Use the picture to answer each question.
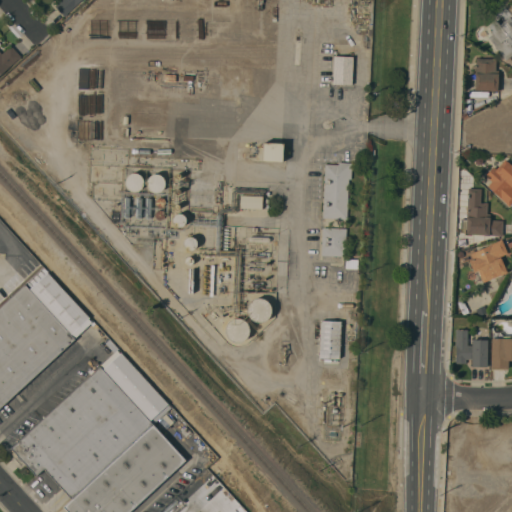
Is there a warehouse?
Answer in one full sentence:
Yes, a warehouse can be made out from above.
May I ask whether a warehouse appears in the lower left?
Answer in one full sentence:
Yes, a warehouse is visible in the lower left.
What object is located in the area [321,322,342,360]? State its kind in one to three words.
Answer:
shed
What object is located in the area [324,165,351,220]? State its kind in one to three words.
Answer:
building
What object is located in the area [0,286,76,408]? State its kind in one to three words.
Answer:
building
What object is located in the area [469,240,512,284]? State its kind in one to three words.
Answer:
house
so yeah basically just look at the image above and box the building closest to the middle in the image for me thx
[240,196,263,209]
